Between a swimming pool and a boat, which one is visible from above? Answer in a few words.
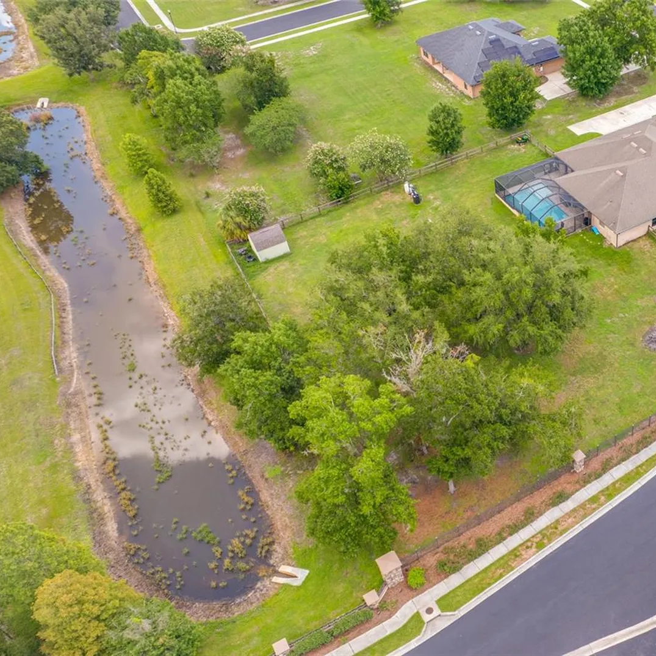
swimming pool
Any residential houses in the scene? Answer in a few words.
Yes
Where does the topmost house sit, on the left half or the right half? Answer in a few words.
right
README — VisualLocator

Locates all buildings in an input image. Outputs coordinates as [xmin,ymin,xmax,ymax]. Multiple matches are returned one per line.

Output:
[548,116,656,247]
[248,224,290,262]
[414,16,564,97]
